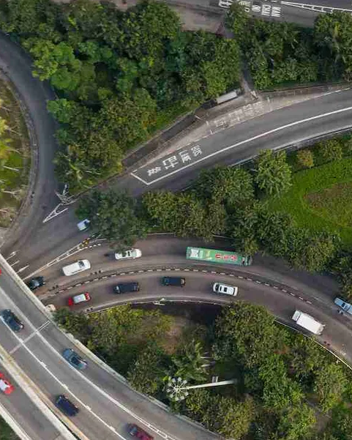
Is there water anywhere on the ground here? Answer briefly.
No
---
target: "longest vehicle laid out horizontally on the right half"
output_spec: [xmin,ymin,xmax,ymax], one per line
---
[186,246,256,270]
